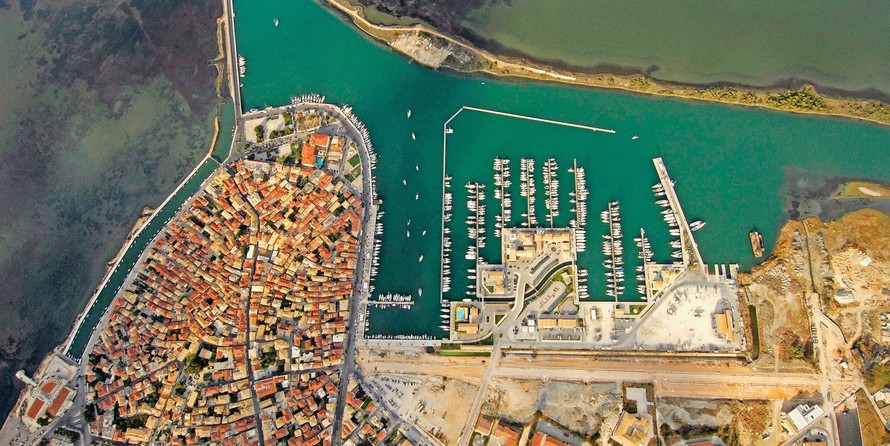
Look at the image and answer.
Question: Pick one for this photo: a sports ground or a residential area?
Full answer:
This image shows a residential area.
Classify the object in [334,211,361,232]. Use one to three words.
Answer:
building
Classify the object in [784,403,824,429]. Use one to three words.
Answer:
building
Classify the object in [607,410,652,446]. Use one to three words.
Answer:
house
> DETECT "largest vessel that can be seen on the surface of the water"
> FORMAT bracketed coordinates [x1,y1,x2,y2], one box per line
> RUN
[750,230,762,258]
